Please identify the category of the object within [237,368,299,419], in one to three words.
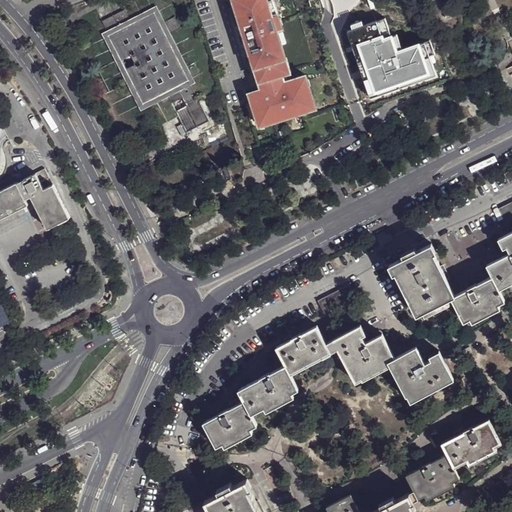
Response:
building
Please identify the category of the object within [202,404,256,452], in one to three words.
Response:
building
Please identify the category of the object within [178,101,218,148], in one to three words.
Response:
house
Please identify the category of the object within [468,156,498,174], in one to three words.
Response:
vehicle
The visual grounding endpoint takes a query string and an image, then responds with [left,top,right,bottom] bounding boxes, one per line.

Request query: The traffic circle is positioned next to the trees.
[134,274,204,346]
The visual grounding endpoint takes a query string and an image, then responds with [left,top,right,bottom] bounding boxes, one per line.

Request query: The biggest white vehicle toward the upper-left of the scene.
[43,110,60,132]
